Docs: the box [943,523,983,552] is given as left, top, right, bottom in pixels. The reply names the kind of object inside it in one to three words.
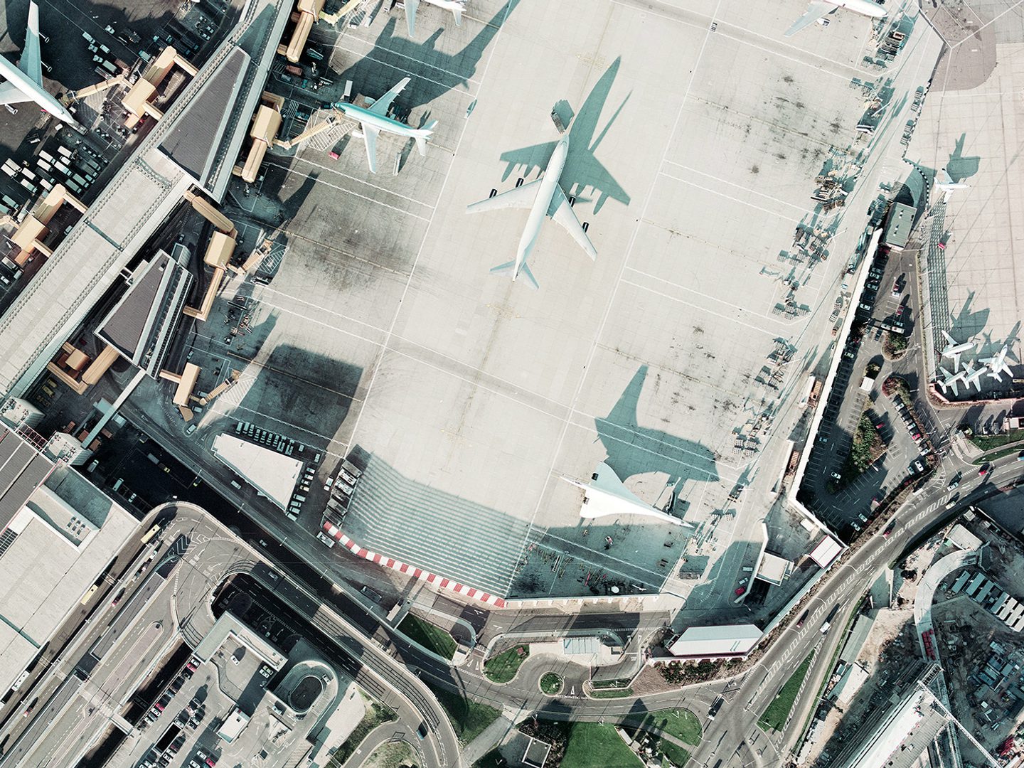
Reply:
building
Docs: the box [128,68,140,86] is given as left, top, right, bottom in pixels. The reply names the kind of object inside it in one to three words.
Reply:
vehicle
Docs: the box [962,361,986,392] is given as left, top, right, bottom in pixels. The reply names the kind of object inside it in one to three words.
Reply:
airplane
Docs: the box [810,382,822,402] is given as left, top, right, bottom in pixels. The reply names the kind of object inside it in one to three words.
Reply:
vehicle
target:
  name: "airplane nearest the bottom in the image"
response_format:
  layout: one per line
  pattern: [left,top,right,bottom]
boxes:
[561,462,693,527]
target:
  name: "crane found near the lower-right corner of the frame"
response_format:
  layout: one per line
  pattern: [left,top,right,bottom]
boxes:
[911,677,1010,768]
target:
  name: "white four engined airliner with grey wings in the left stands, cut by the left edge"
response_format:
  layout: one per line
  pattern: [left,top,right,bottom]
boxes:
[0,1,74,123]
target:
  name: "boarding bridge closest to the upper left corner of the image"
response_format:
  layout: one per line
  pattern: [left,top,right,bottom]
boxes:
[62,71,133,104]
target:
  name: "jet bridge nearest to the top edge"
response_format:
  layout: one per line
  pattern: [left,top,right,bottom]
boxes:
[321,0,366,25]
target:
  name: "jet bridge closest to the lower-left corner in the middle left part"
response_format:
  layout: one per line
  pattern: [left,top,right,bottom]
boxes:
[191,370,241,405]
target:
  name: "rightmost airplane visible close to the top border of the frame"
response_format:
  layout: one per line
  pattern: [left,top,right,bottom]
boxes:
[779,0,888,36]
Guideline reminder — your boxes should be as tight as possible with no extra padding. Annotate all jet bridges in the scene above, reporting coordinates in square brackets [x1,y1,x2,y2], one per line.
[62,71,133,104]
[321,0,366,25]
[227,236,273,275]
[277,111,340,152]
[191,370,241,405]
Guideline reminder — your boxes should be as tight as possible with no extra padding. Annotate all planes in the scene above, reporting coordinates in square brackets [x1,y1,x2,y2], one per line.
[466,136,597,285]
[396,0,466,41]
[332,76,432,171]
[939,365,964,397]
[0,1,74,123]
[939,330,976,373]
[935,167,970,204]
[561,462,693,527]
[980,346,1013,380]
[962,361,986,392]
[779,0,888,36]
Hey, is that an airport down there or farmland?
airport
